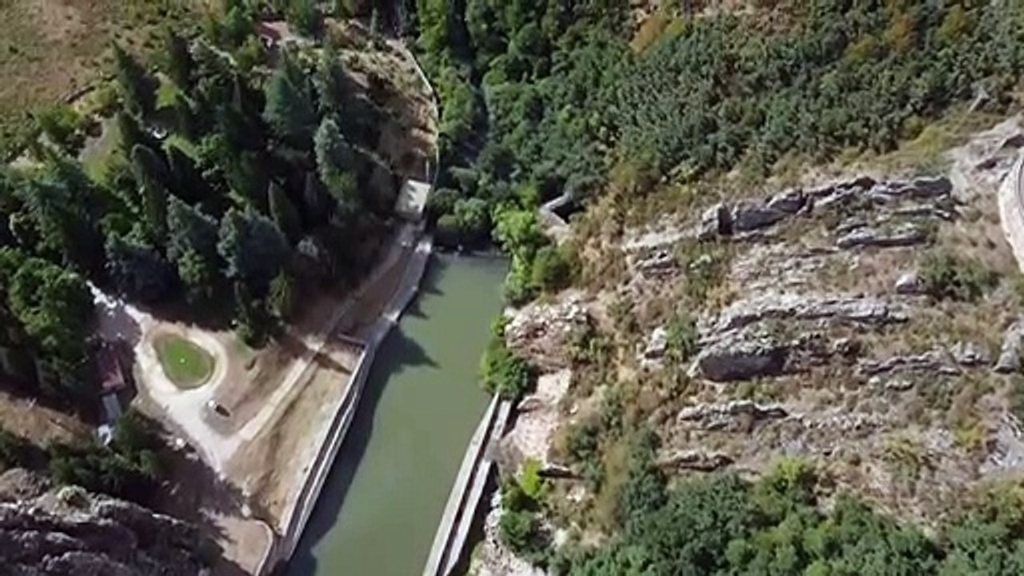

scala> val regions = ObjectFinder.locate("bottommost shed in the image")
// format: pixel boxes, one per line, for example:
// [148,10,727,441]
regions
[103,395,130,428]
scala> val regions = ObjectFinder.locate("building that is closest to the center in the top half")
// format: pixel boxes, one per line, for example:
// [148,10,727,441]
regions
[542,194,572,226]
